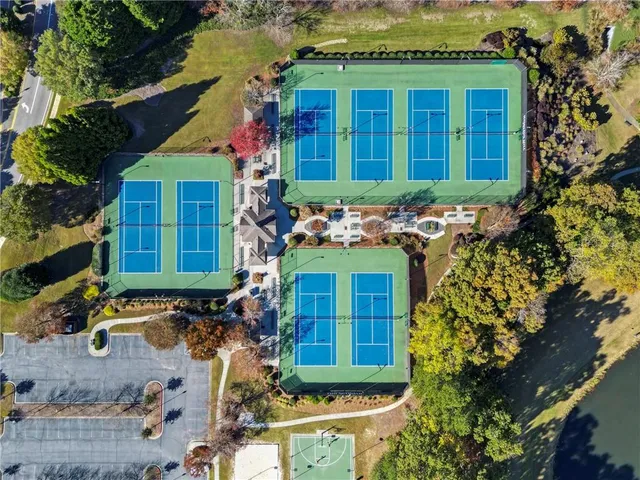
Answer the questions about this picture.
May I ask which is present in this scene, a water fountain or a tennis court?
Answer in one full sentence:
The image shows a tennis court.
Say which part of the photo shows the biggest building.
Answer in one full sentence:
The biggest building is located in the center region of the scene.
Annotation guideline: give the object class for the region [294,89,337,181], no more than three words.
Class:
tennis court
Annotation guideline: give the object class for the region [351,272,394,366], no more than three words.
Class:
tennis court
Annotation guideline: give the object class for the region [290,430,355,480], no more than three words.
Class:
basketball court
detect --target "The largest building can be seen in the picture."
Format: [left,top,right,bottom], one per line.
[238,185,276,266]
